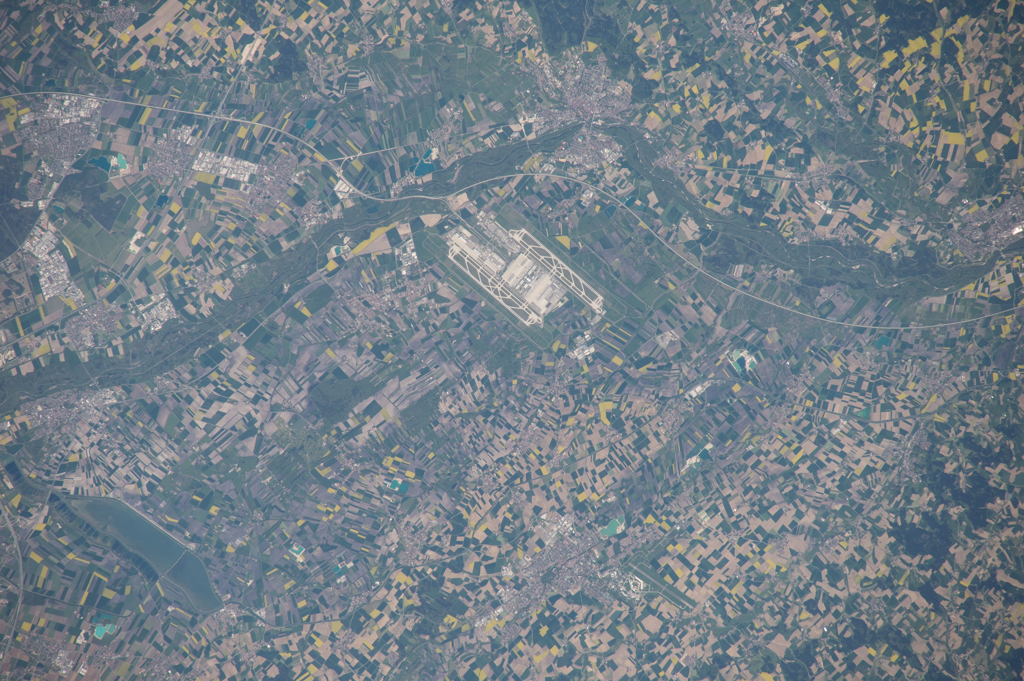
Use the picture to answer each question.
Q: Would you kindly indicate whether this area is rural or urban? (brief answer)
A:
rural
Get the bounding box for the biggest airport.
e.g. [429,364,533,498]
[425,211,627,342]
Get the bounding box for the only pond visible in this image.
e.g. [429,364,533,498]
[70,497,220,612]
